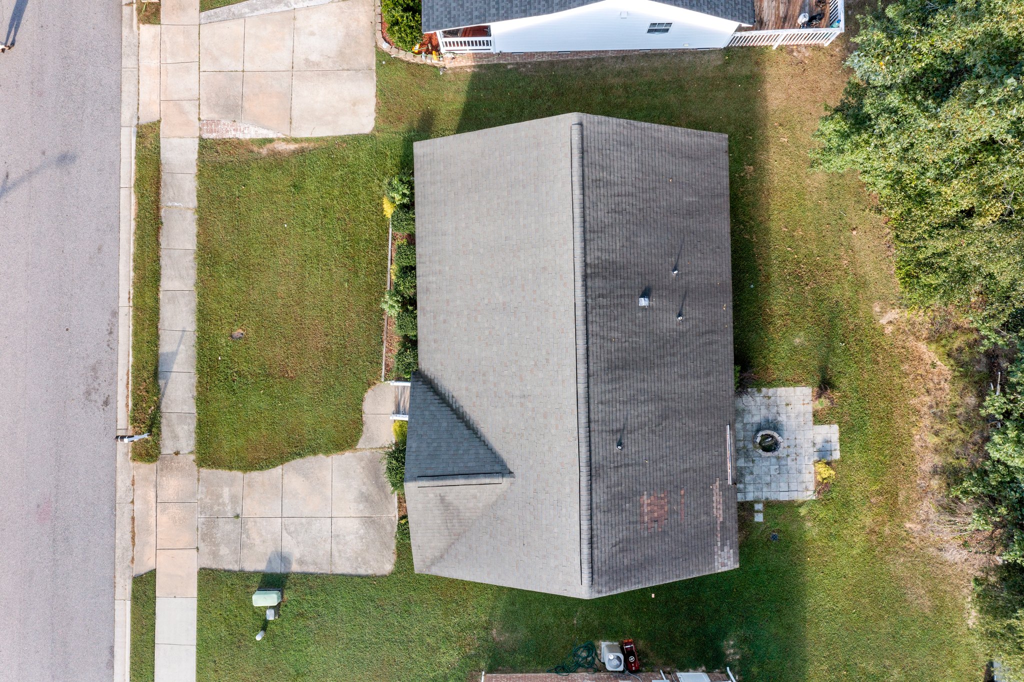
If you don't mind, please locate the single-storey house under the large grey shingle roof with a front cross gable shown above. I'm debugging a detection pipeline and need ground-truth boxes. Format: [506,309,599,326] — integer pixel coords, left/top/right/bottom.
[405,112,739,600]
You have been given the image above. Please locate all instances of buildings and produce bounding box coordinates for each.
[405,112,739,600]
[422,0,755,67]
[484,664,737,682]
